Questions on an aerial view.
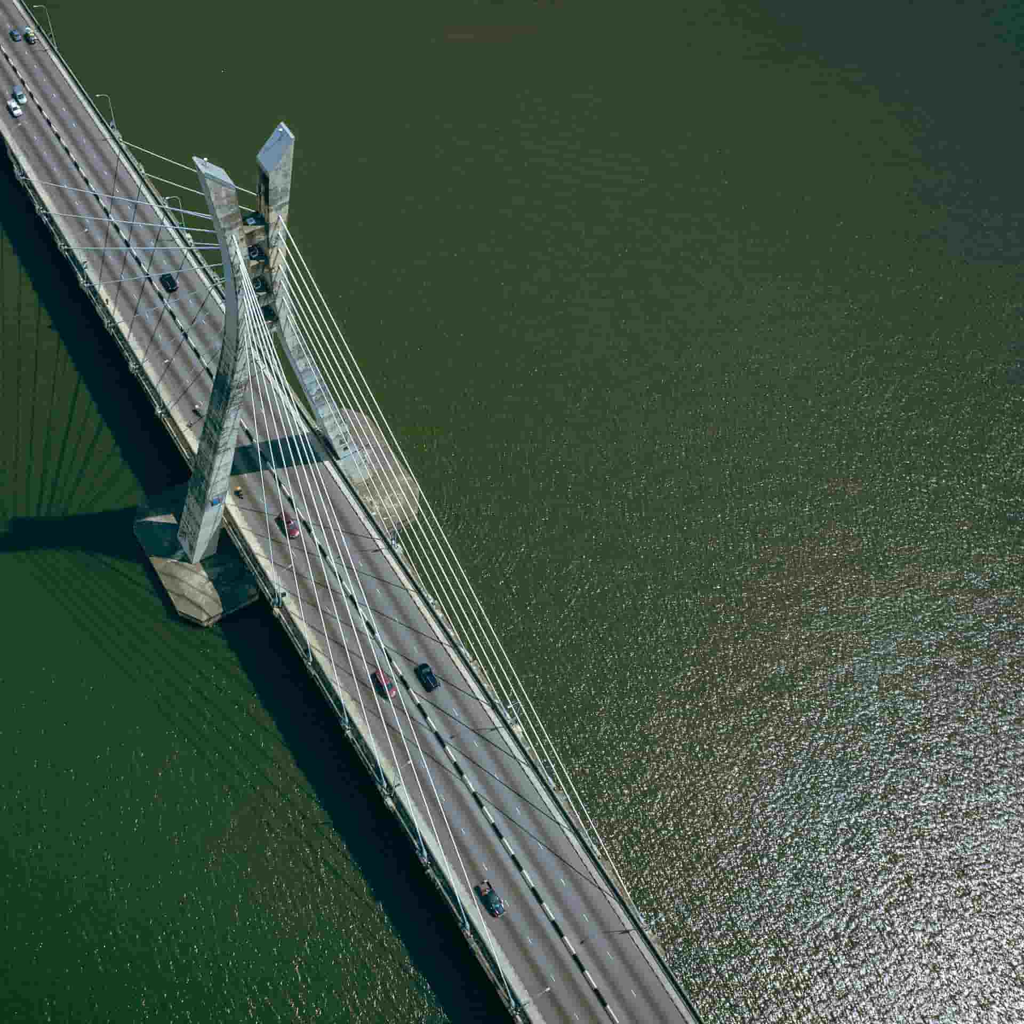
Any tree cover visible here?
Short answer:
No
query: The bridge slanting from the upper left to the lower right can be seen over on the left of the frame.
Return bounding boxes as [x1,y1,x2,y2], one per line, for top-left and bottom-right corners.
[0,0,714,1024]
